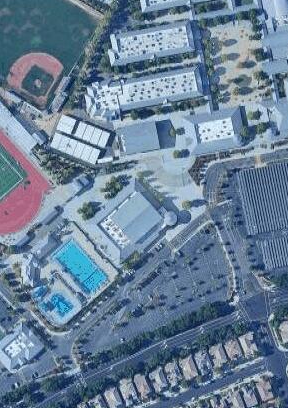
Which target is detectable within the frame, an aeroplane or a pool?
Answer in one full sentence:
Of the two, only a pool appears.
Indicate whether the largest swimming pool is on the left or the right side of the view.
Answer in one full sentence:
The largest swimming pool sits on the left side.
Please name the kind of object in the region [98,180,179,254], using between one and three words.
building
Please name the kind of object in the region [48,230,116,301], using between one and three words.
swimming pool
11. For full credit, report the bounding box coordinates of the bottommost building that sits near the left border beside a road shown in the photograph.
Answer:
[0,323,45,373]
